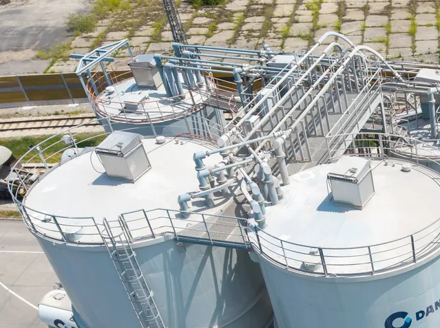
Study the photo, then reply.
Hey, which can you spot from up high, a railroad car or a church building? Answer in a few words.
railroad car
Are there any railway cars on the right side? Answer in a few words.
No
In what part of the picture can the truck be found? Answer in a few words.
bottom left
